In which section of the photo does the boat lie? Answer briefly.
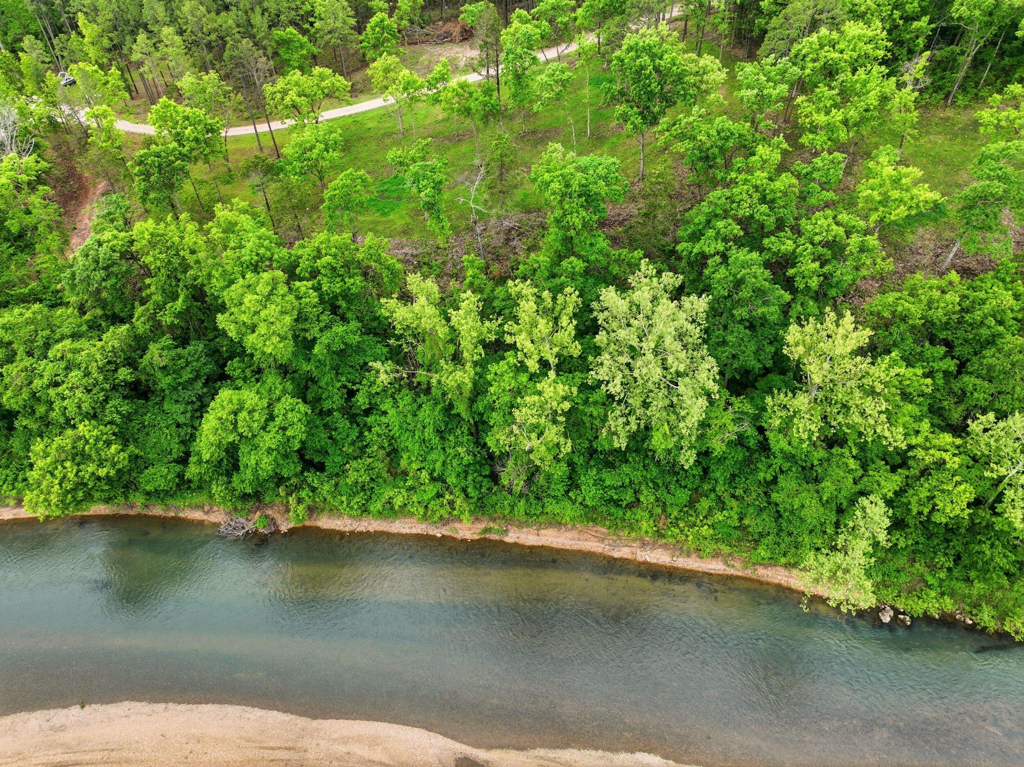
top left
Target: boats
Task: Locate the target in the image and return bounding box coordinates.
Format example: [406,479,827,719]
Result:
[50,68,82,89]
